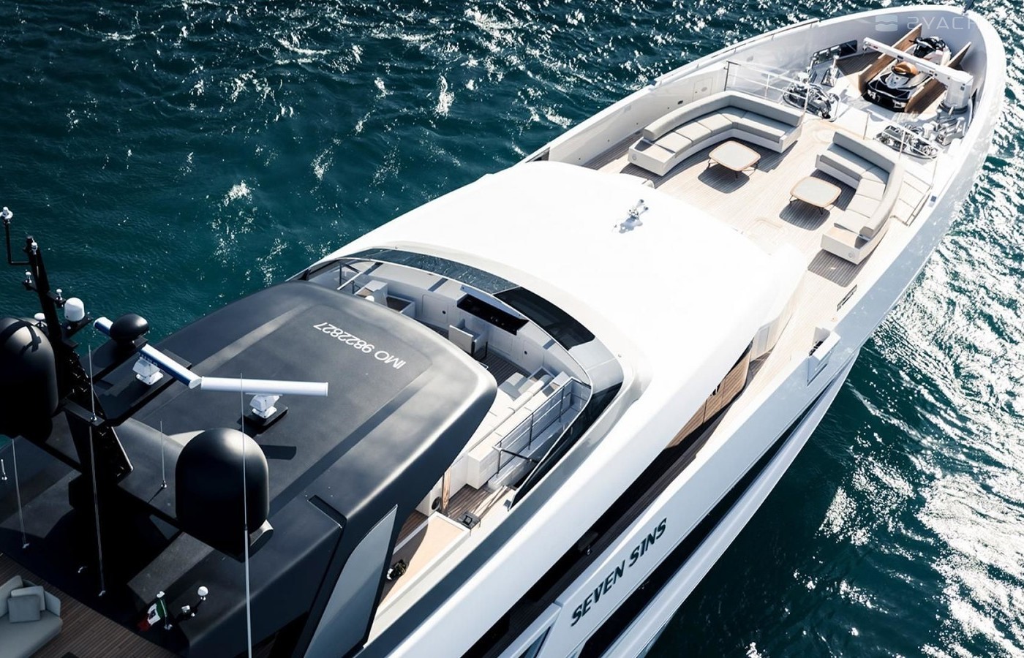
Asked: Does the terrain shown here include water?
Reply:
Yes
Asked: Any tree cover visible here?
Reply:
No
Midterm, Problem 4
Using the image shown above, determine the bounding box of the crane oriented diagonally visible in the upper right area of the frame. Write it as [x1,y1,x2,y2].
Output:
[863,37,977,126]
